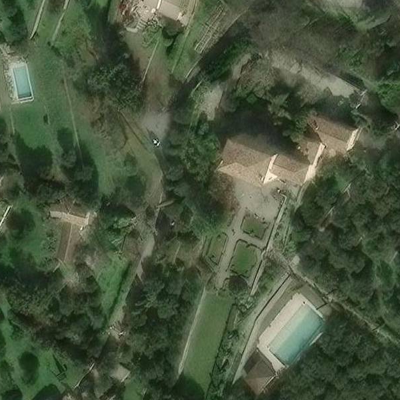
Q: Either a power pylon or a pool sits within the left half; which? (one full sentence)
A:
Looking within the left half, you will find a pool.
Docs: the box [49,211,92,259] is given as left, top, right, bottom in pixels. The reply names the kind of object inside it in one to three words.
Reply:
house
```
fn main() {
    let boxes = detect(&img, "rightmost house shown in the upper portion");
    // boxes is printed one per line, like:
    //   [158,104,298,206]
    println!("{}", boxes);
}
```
[216,121,358,191]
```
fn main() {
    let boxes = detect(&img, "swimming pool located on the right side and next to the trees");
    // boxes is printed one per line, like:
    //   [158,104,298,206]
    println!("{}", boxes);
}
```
[247,291,326,374]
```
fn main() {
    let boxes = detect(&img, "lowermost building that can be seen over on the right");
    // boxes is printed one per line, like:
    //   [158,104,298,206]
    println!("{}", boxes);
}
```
[238,351,279,388]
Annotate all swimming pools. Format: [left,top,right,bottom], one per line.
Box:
[2,48,34,102]
[247,291,326,374]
